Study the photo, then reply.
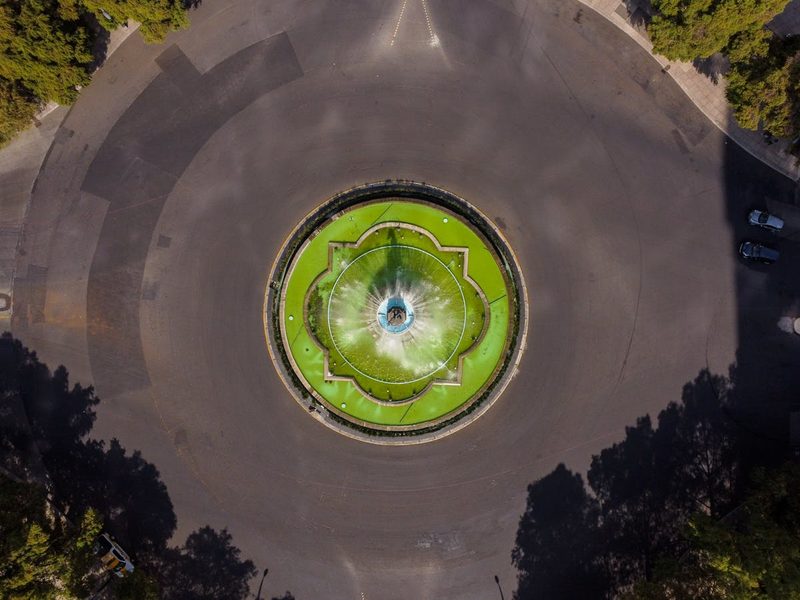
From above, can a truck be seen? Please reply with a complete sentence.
No, there appears to be no truck in this shot.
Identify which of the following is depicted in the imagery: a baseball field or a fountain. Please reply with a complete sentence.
The image shows a fountain.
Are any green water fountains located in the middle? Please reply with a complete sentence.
Yes, in the middle there is a green water fountain.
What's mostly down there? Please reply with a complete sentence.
The scene is dominated by paved ground.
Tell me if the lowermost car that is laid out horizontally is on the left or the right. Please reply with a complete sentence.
You can find the lowermost car that is laid out horizontally on the right side of the picture.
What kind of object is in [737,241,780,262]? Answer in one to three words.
car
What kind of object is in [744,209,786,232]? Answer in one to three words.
car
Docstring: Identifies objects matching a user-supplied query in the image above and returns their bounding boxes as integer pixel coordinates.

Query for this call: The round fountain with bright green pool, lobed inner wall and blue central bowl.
[278,198,512,428]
